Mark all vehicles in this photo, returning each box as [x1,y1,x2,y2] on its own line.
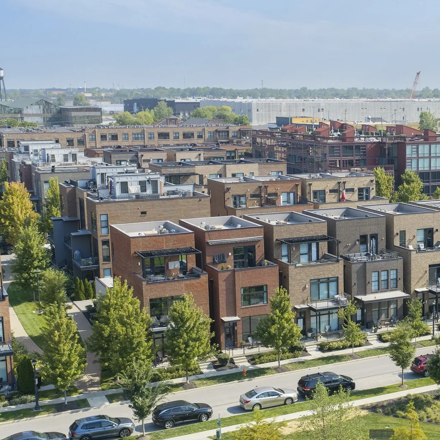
[239,387,298,410]
[151,400,213,429]
[0,428,66,440]
[69,413,135,440]
[298,370,359,399]
[409,353,440,377]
